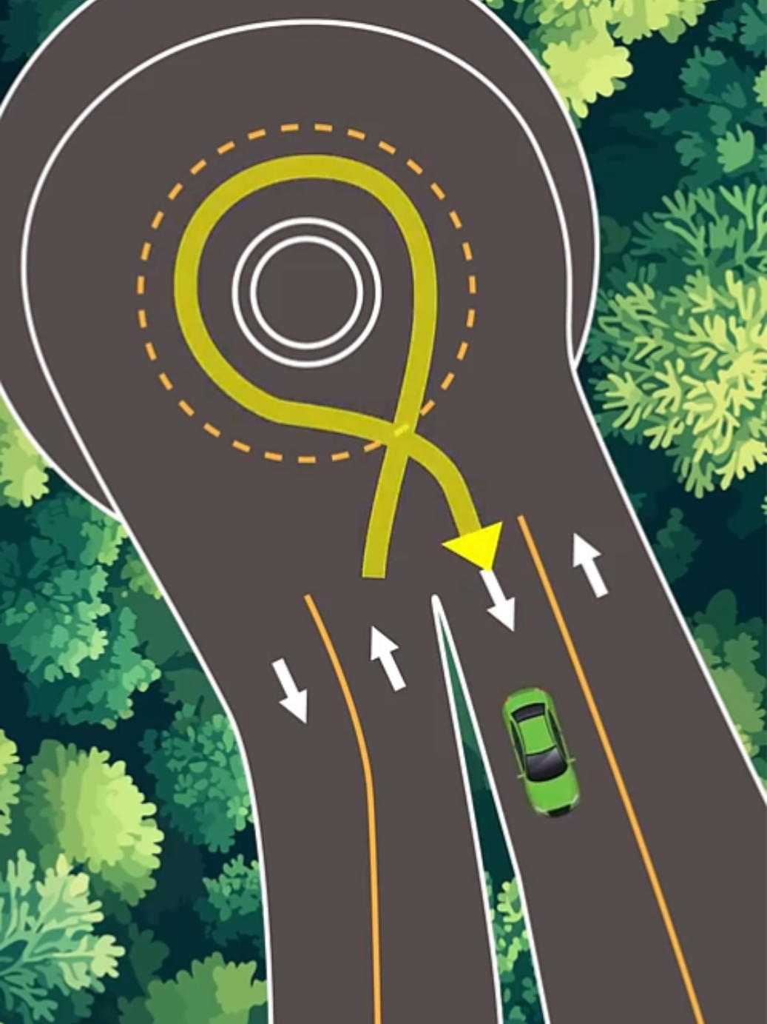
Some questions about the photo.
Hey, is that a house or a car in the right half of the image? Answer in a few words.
car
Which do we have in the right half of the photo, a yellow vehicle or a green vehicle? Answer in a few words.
green vehicle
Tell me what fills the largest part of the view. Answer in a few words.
paved ground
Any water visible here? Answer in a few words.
No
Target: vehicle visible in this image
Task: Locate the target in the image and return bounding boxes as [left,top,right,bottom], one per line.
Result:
[503,685,581,818]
